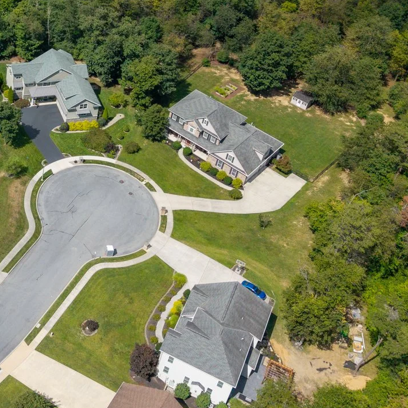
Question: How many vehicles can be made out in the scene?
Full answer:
The picture shows 1 vehicle.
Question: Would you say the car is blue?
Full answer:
Yes, the car appears blue.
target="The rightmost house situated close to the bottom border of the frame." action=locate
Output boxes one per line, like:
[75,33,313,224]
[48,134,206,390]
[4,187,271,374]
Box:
[159,283,270,403]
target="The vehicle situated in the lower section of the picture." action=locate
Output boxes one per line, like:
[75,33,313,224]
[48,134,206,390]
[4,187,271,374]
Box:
[241,280,268,301]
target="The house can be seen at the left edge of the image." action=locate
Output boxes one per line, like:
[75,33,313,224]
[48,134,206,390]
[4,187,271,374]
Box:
[8,46,101,122]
